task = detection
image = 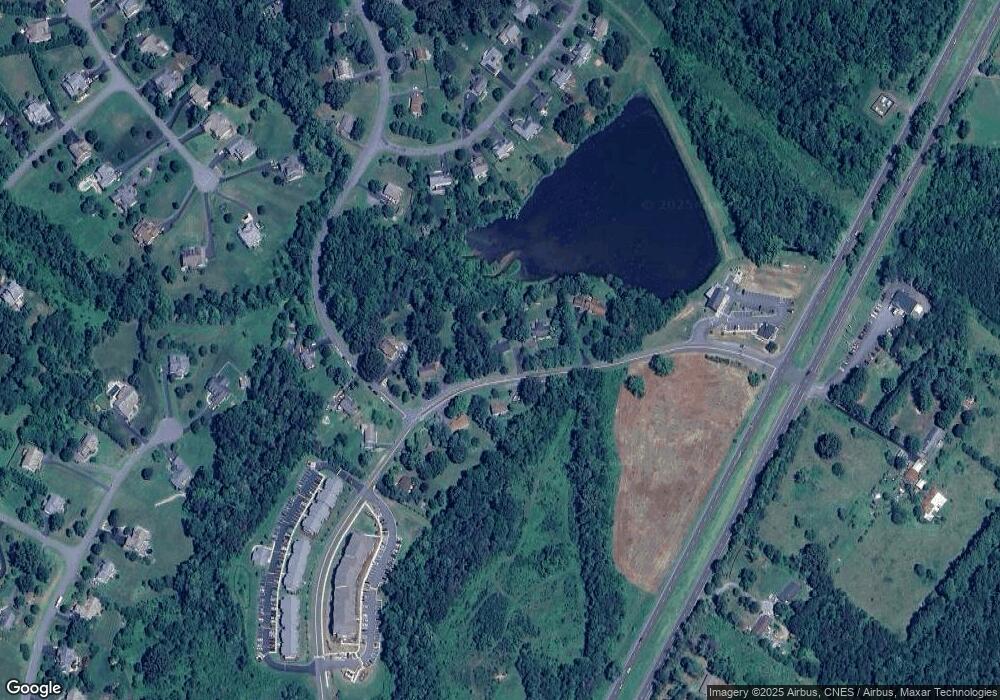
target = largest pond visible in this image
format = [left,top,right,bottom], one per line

[466,90,723,302]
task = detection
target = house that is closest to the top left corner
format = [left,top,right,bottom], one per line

[25,21,51,41]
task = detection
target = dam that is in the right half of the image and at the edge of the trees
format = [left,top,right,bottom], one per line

[641,71,740,280]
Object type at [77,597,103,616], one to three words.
house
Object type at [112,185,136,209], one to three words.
house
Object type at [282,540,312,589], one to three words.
building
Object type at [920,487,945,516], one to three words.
barn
